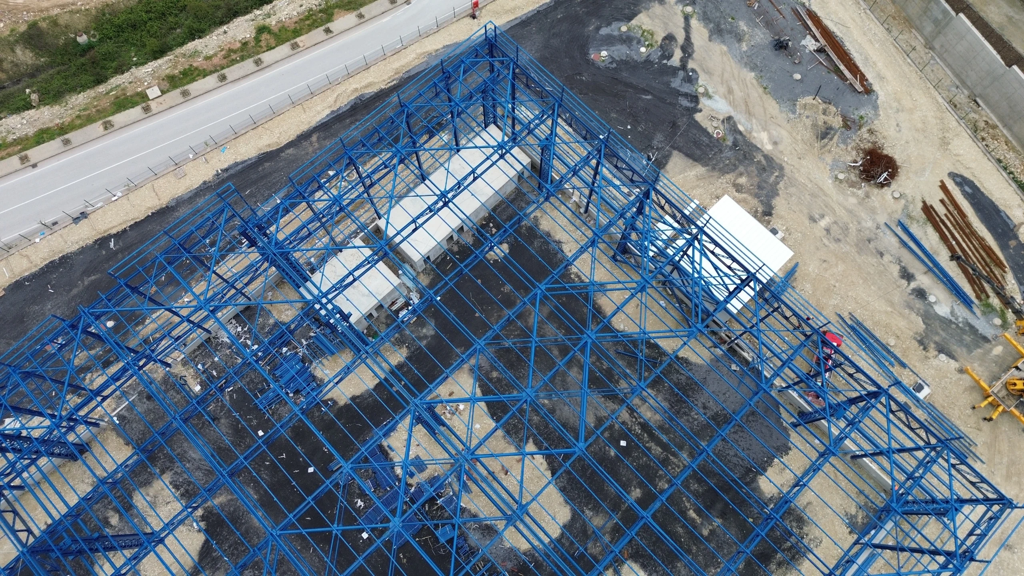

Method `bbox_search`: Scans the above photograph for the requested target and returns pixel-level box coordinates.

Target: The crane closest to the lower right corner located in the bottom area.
[960,333,1024,434]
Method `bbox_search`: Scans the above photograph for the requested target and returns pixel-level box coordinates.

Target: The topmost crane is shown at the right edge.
[947,253,1024,357]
